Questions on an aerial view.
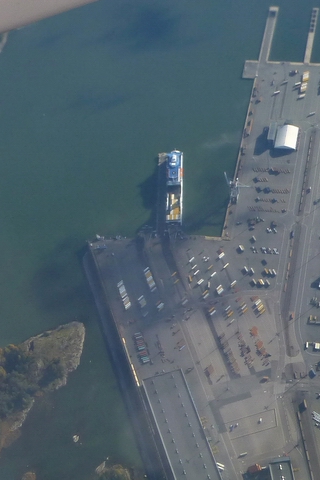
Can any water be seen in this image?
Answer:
Yes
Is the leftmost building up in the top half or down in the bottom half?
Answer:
bottom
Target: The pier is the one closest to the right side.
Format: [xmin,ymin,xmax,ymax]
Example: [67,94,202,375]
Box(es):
[304,8,319,64]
